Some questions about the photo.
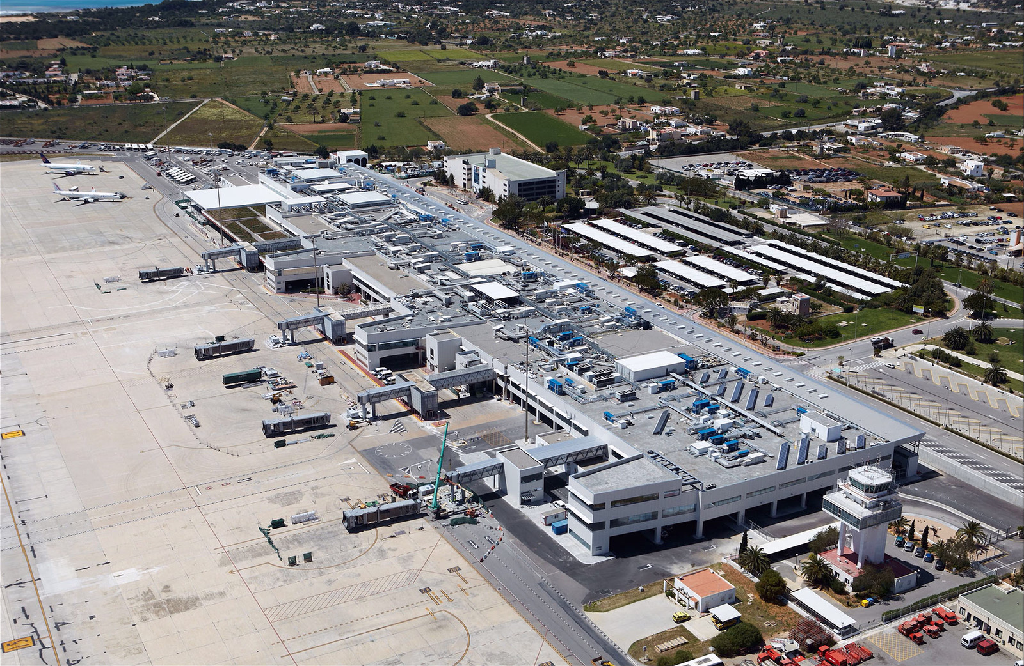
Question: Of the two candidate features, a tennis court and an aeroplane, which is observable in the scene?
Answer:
aeroplane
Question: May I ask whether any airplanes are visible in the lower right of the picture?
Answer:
No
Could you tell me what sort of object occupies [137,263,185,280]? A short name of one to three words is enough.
jet bridge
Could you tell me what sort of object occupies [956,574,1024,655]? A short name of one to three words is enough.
building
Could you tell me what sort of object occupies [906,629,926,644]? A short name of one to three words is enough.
work vehicle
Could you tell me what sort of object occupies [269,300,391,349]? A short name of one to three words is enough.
jet bridge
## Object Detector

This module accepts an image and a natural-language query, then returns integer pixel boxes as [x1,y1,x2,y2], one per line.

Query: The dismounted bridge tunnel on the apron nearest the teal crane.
[340,495,423,532]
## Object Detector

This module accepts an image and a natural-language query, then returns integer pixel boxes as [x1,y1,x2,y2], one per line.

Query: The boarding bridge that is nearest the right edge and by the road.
[441,442,622,517]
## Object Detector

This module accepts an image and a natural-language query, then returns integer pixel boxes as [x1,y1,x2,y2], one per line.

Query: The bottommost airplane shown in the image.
[48,174,118,204]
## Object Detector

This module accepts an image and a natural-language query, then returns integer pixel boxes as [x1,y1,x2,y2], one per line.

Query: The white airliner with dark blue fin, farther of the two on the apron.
[34,148,99,174]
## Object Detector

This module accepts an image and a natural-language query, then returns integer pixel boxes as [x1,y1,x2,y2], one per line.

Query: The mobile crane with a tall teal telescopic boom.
[416,421,460,527]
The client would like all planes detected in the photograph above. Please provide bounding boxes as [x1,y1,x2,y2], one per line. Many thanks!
[48,174,118,204]
[34,148,99,174]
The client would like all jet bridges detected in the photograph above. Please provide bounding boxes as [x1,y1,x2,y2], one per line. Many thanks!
[269,300,391,349]
[137,263,185,280]
[350,365,498,429]
[260,408,332,436]
[441,442,622,517]
[192,336,256,360]
[195,237,303,276]
[340,495,423,532]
